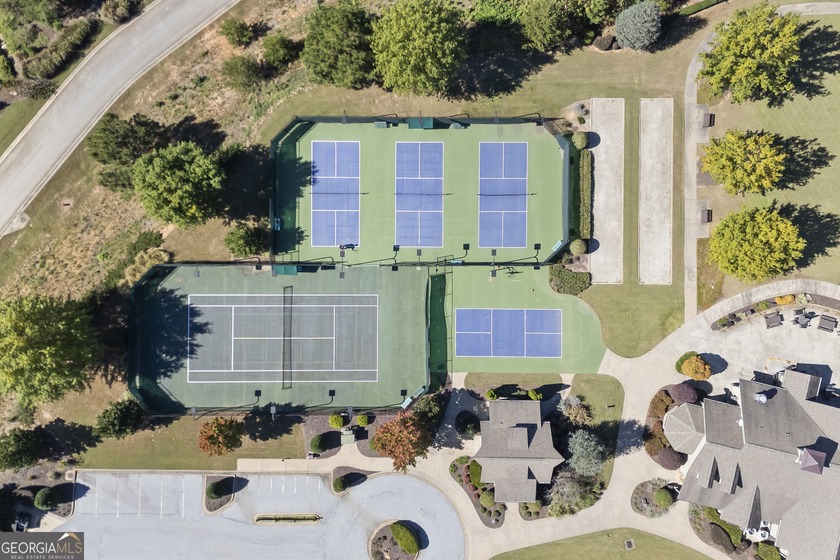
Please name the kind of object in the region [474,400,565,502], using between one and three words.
building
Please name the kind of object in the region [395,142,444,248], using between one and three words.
sports court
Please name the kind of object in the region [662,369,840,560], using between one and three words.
house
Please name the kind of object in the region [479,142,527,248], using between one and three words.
sports court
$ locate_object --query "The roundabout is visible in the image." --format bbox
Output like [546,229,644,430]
[368,518,423,560]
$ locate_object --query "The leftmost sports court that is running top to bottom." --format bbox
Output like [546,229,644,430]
[312,141,360,247]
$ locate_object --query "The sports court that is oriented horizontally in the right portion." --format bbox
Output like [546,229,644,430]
[456,308,562,357]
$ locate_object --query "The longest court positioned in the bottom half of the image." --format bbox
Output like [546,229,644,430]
[139,265,428,411]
